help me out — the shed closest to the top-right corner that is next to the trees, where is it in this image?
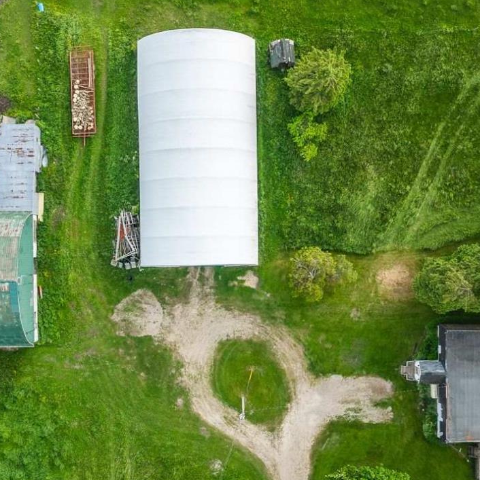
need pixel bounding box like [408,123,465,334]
[272,34,295,70]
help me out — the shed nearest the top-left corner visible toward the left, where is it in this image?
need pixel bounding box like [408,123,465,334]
[0,115,44,213]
